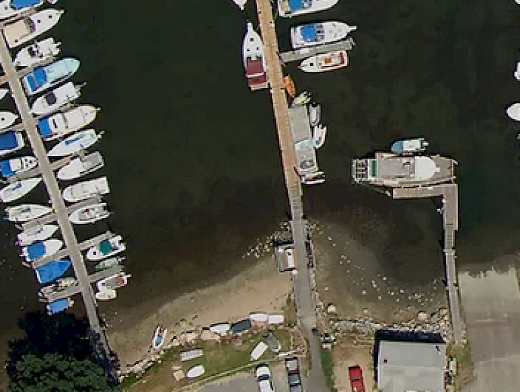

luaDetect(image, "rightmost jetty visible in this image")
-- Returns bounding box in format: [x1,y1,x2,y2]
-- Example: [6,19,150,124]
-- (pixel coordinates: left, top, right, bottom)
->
[384,160,461,344]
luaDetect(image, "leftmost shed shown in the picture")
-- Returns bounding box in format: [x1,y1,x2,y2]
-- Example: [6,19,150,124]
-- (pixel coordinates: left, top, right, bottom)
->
[274,244,294,275]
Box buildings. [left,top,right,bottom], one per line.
[274,244,294,275]
[376,336,446,391]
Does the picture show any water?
Yes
